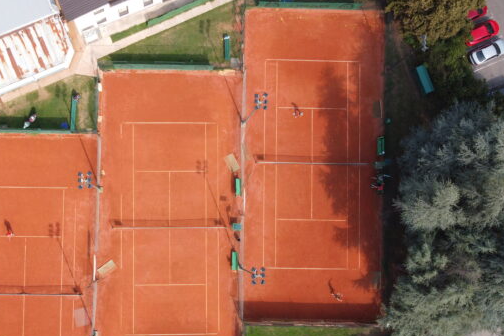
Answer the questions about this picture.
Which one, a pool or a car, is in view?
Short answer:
car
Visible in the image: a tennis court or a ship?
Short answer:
tennis court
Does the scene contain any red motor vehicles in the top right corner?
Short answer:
Yes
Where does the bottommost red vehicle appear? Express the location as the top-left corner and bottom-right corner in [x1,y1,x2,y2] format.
[470,19,503,44]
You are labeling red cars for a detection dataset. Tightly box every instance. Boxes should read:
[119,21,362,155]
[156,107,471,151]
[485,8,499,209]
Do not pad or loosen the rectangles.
[470,19,503,44]
[459,0,494,24]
